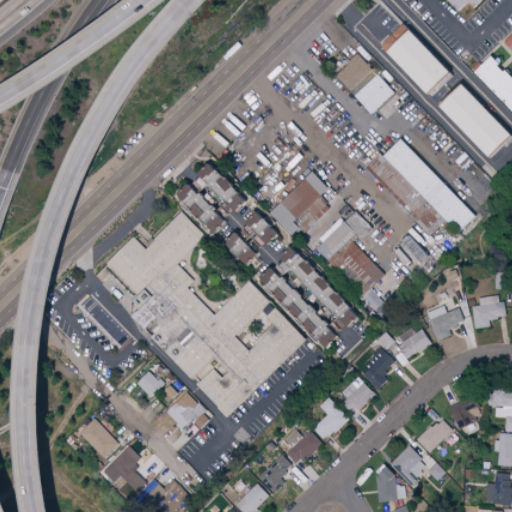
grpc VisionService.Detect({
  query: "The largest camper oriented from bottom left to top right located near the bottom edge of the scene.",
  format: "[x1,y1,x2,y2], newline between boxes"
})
[356,467,372,487]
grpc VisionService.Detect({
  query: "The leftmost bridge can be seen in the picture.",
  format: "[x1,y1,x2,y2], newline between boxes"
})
[0,162,20,232]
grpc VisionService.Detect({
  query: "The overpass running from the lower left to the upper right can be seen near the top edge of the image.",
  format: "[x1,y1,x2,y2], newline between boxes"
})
[0,0,166,112]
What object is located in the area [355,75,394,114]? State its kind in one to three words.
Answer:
building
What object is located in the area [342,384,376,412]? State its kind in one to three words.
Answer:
house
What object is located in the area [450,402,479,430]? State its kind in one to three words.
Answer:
house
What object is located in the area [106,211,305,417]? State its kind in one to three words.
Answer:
building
